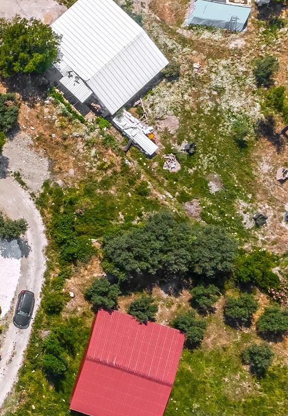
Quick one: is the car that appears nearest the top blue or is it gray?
gray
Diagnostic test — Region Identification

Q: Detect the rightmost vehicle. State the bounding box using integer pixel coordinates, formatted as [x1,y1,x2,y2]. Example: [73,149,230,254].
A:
[11,290,34,328]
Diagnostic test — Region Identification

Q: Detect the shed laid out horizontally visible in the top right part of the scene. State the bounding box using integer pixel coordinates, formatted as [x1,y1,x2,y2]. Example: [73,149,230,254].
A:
[186,0,251,31]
